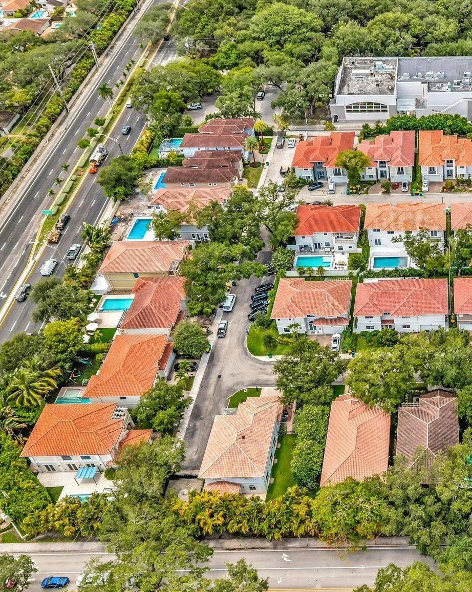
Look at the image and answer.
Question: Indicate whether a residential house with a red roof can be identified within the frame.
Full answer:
Yes, there's a residential house with a red roof here.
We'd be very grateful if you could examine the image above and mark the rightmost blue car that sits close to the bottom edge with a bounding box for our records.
[38,575,73,590]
